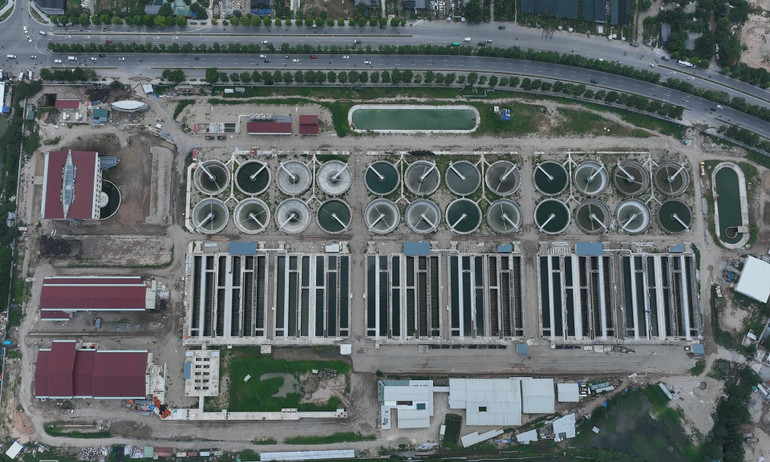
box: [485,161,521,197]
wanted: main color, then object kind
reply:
gray storage tank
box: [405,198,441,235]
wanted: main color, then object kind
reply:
gray storage tank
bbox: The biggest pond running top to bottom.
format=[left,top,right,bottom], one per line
[711,163,749,248]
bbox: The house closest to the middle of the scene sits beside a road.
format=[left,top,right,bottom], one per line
[404,242,429,254]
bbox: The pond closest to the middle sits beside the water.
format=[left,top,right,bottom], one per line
[347,105,480,133]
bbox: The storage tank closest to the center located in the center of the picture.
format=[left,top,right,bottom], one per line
[364,198,401,235]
